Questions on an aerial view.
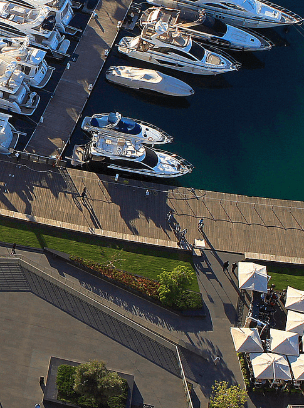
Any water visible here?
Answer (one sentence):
Yes, water shows up in the scene.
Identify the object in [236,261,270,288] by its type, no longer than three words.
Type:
umbrella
